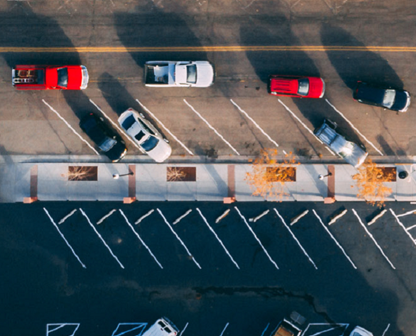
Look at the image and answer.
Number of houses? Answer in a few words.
zero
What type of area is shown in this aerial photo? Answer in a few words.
parking lot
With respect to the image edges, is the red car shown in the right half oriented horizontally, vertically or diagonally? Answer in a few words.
horizontally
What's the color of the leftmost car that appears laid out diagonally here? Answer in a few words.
black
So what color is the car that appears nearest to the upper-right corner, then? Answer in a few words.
black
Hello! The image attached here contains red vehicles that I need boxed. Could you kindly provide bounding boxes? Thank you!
[266,73,327,99]
[10,62,91,93]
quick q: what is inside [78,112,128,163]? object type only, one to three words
car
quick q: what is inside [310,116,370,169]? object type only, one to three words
truck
